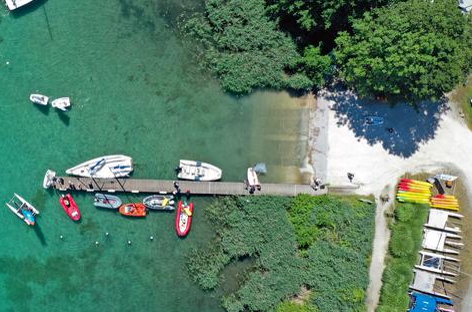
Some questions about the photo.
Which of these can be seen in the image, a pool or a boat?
boat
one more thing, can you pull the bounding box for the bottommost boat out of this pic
[409,294,453,312]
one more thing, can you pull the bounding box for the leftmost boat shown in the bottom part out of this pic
[6,193,40,225]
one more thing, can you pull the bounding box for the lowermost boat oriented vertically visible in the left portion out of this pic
[177,199,195,237]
